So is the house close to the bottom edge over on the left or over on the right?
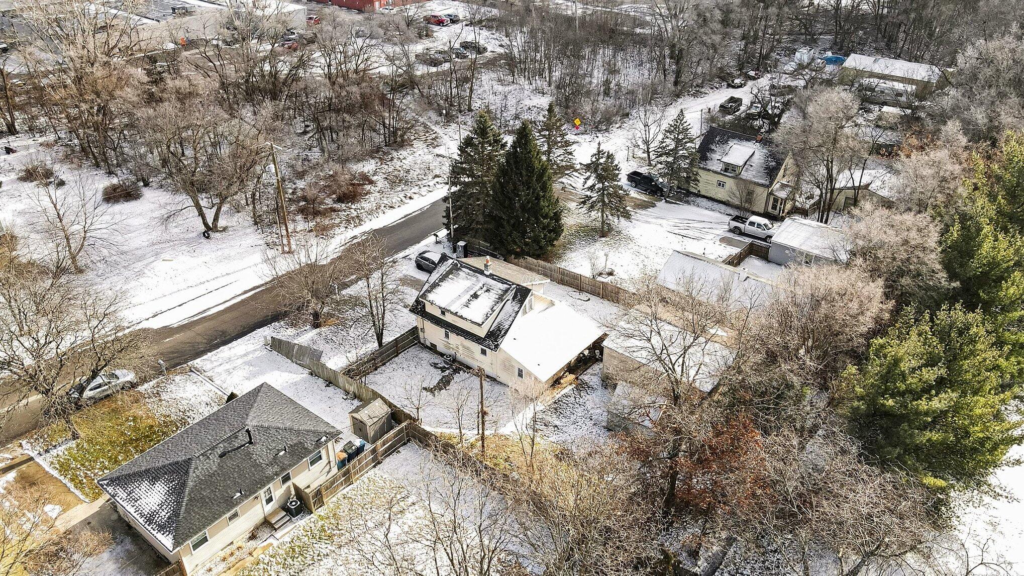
left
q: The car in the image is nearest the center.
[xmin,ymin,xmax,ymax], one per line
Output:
[411,245,443,270]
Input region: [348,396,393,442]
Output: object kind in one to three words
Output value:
shed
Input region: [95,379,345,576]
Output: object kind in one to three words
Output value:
house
